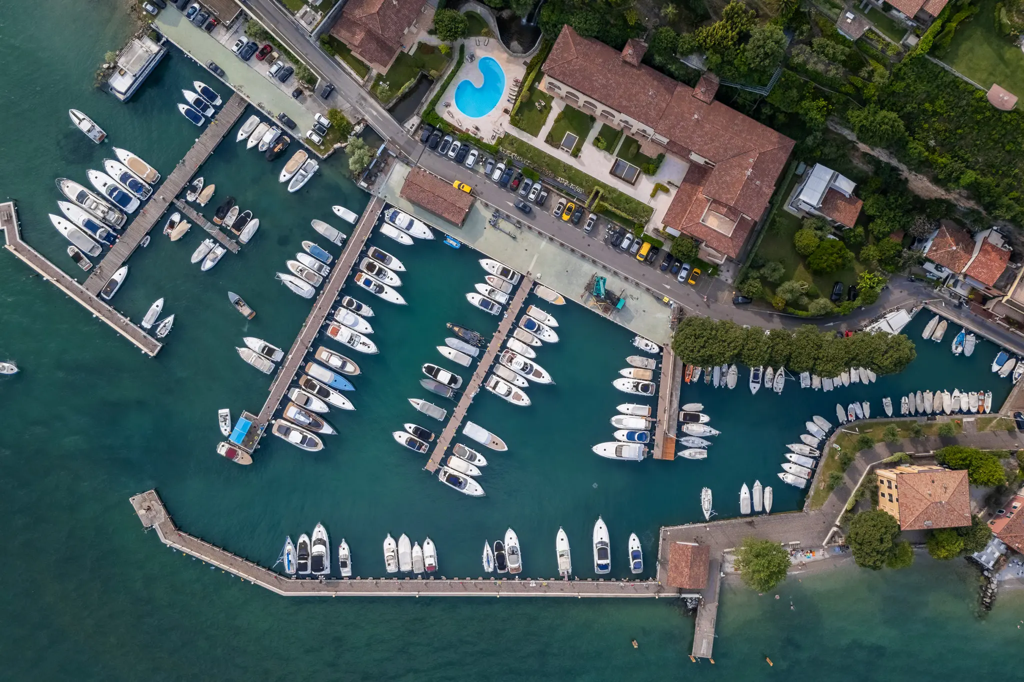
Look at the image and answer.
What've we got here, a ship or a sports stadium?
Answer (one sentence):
This aerial view contains a ship.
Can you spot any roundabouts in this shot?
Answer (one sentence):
No, the frame has no roundabout in it.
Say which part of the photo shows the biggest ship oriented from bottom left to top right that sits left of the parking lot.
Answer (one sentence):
The biggest ship oriented from bottom left to top right that sits left of the parking lot sits in the top left section of the image.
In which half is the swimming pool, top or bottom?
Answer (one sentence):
The top half of the photo is where the swimming pool is.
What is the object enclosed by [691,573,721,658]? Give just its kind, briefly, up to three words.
pier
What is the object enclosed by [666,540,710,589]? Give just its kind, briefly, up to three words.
building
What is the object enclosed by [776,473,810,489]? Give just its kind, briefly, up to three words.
boat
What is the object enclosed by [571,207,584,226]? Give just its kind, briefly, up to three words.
vehicle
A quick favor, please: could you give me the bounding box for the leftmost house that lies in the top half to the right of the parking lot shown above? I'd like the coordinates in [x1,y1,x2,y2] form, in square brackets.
[329,0,427,73]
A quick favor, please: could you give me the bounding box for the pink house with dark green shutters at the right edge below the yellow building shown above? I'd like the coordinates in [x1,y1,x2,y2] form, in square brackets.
[982,486,1024,553]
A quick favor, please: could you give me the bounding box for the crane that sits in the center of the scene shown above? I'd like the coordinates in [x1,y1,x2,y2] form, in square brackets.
[582,273,628,314]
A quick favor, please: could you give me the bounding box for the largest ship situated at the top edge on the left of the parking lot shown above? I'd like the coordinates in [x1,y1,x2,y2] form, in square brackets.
[103,30,167,98]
